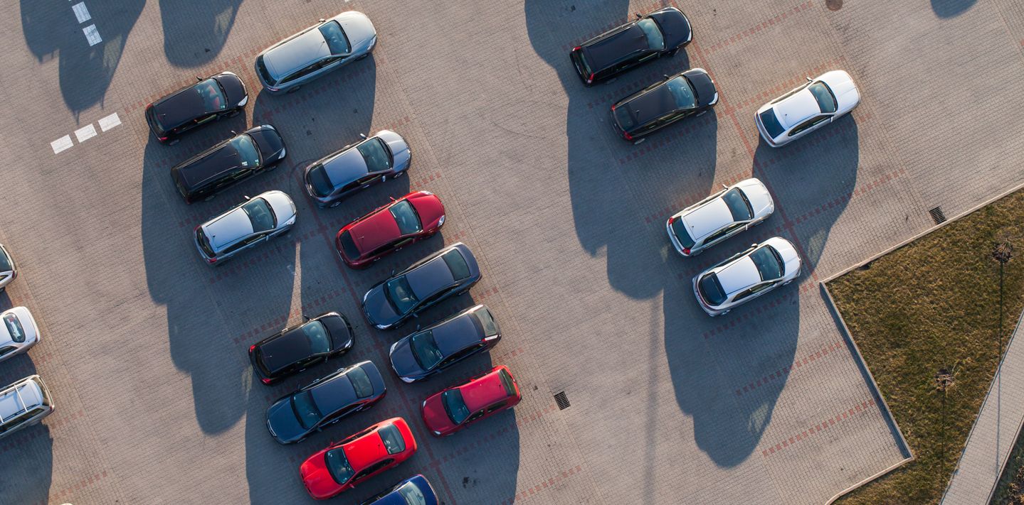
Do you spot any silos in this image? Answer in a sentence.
No, there's no silo here.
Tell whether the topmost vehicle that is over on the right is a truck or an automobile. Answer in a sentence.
The topmost vehicle that is over on the right can be classified as an automobile.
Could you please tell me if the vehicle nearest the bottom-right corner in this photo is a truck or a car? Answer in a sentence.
I'd say the vehicle nearest the bottom-right corner is a car.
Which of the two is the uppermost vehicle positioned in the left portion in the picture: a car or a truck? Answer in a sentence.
It looks like the uppermost vehicle positioned in the left portion is a car.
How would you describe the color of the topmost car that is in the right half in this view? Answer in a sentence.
In this view, the topmost car that is in the right half is black.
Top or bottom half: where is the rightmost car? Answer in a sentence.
The top half of the photo is where the rightmost car is.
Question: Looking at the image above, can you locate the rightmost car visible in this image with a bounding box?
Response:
[755,77,863,149]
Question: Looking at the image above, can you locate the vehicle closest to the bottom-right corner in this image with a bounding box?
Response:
[695,244,805,317]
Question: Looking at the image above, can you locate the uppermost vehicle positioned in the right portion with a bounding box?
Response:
[573,11,694,89]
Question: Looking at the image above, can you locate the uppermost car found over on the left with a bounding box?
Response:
[255,12,379,96]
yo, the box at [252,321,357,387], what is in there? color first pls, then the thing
black car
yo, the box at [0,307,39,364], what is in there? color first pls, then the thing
white car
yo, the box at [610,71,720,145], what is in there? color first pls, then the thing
black car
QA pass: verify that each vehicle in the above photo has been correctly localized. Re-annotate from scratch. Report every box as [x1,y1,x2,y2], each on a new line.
[334,195,448,273]
[267,358,387,445]
[573,11,694,89]
[305,134,414,208]
[255,12,379,96]
[668,182,777,258]
[755,77,863,149]
[0,307,39,364]
[197,192,299,264]
[420,365,523,438]
[695,244,805,317]
[300,415,417,499]
[349,471,440,505]
[0,242,18,289]
[363,240,482,329]
[389,303,503,384]
[147,72,249,144]
[0,371,53,435]
[610,71,720,145]
[172,124,287,204]
[252,321,357,387]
